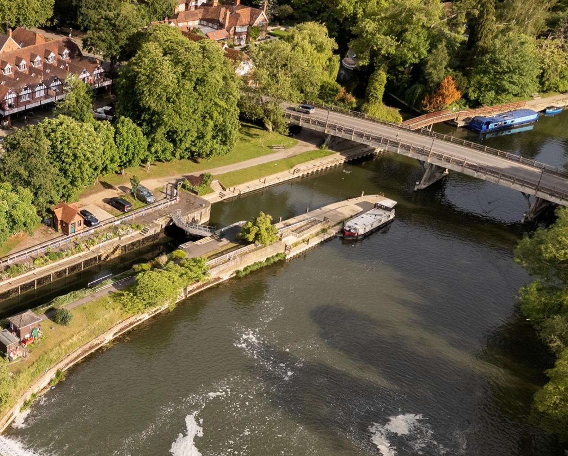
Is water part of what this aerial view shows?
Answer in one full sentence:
Yes, there is water in the image.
